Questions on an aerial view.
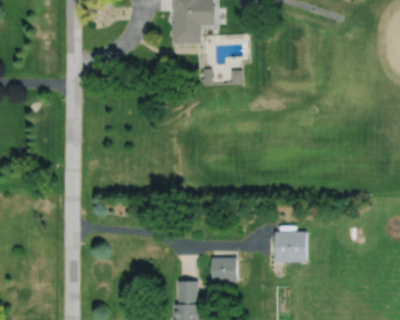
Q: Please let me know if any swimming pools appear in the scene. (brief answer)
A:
Yes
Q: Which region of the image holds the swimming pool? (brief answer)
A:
top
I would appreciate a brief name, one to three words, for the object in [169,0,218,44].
house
